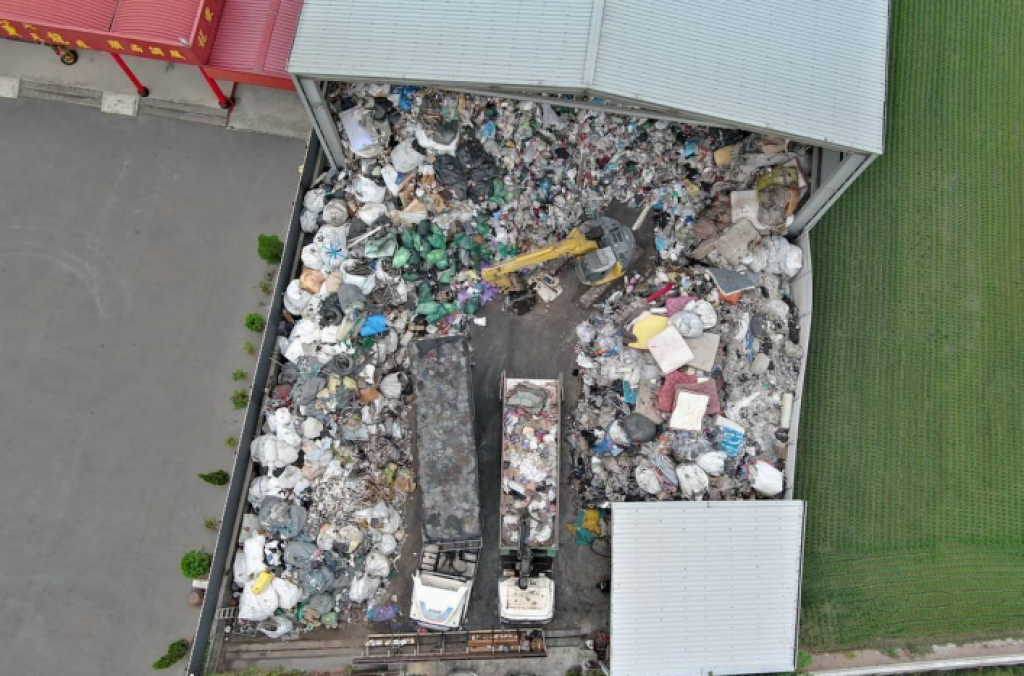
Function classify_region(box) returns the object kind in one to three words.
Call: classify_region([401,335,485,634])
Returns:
truck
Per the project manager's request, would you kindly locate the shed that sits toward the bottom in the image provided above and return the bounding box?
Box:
[603,500,809,676]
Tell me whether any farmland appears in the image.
Yes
